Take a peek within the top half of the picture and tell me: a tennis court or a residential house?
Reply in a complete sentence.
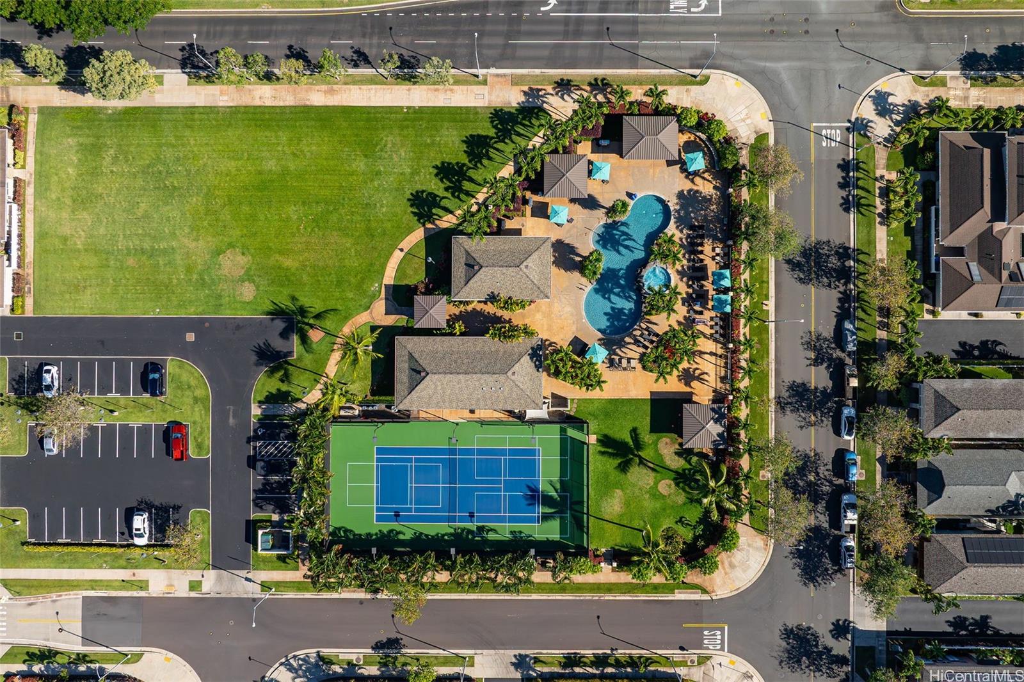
There is a residential house within the top half of the picture.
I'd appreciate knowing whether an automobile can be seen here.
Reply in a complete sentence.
Yes, I can see an automobile in this picture.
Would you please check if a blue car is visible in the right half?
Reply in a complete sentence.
Yes, the scene does show a blue car in the right half.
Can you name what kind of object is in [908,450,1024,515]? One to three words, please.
house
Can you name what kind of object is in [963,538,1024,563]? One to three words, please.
solar panel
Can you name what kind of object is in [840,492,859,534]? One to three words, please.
vehicle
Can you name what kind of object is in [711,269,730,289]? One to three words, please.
umbrella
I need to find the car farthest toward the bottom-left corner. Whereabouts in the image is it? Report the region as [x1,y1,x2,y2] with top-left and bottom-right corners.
[131,510,149,544]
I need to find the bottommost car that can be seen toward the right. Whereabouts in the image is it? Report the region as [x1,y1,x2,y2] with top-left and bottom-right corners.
[839,536,857,569]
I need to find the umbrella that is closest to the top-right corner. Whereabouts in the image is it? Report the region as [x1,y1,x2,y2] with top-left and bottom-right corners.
[684,152,704,172]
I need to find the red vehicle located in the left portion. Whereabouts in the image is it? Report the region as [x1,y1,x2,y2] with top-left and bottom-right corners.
[170,424,188,461]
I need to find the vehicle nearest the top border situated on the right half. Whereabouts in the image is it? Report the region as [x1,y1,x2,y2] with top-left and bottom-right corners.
[840,319,856,352]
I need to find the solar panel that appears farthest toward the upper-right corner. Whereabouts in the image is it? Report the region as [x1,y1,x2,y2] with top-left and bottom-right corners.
[997,286,1024,307]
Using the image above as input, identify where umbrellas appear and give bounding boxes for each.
[711,294,730,313]
[711,269,730,289]
[591,162,610,181]
[549,205,568,224]
[684,152,704,172]
[584,340,609,363]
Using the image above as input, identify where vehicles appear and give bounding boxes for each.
[842,364,861,401]
[839,536,857,569]
[170,424,188,461]
[840,492,859,534]
[842,450,859,481]
[840,406,858,440]
[40,425,59,456]
[840,319,856,352]
[40,364,59,396]
[146,362,164,395]
[131,510,149,544]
